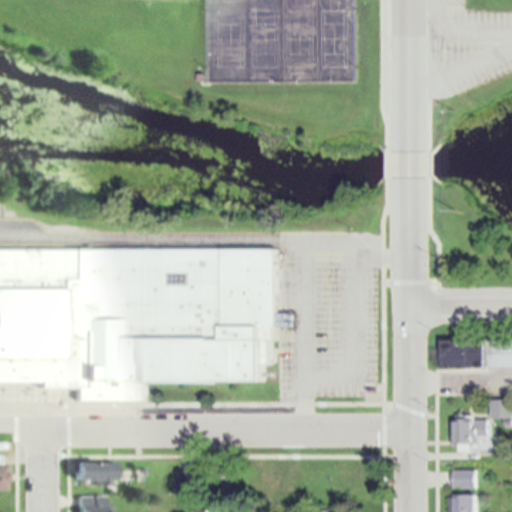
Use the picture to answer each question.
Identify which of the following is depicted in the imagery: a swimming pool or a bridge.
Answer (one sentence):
Looking from above, you can make out a bridge.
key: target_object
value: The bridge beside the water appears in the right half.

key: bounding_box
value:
[377,144,442,187]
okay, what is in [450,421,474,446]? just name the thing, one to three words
house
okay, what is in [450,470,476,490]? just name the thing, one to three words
house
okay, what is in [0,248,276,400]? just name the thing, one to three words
building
